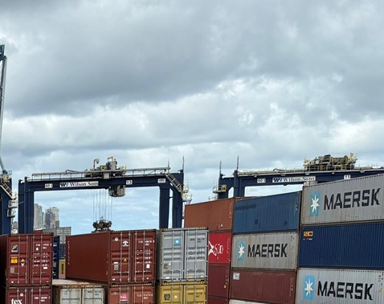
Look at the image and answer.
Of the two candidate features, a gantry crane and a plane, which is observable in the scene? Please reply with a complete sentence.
I can see a gantry crane in this picture.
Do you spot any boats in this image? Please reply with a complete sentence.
No, the scene contains no boat.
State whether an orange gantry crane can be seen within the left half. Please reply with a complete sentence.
No, there is no orange gantry crane within the left half.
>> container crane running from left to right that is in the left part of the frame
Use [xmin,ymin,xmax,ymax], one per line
[14,157,206,234]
